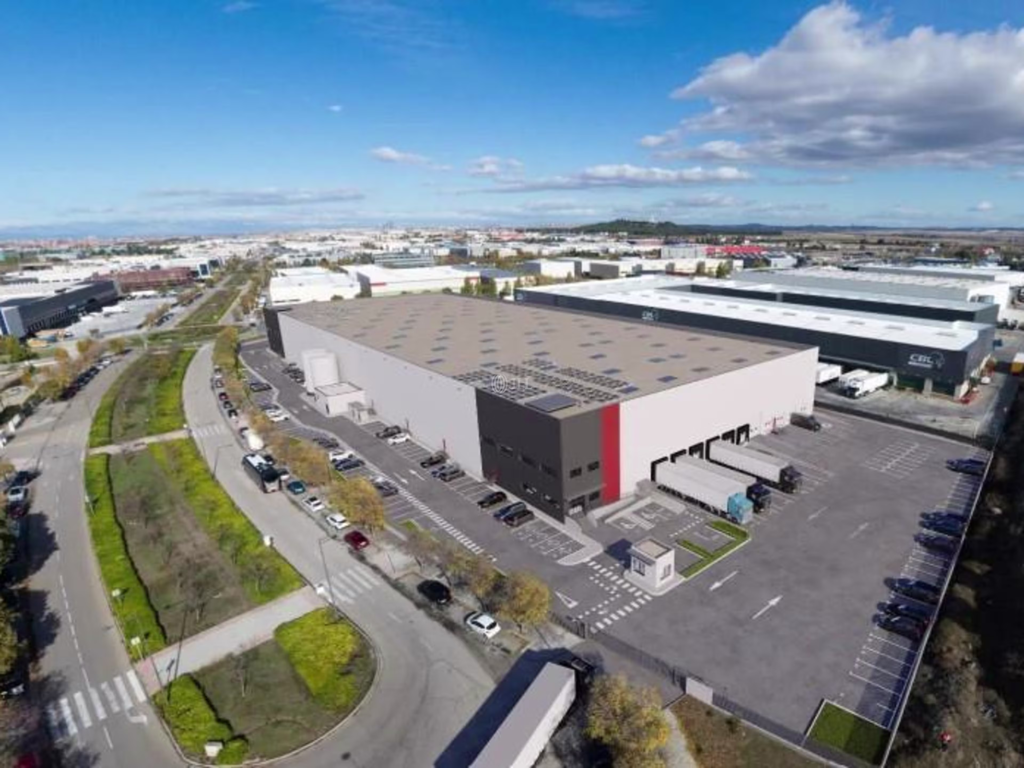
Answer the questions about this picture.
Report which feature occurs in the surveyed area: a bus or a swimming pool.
bus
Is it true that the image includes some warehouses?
Yes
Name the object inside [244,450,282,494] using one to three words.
bus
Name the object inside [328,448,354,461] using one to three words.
vehicle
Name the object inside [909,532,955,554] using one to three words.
car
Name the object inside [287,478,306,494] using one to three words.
car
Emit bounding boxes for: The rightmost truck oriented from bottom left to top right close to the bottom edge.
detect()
[477,659,599,768]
